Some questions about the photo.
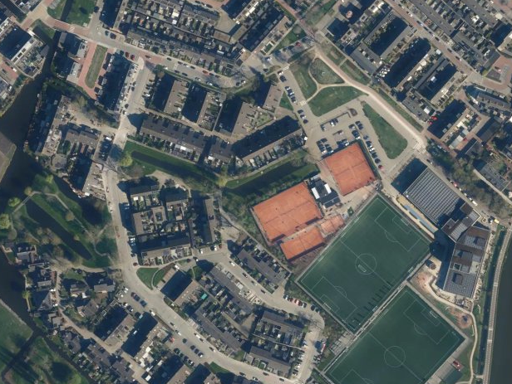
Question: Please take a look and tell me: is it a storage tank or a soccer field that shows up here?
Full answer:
It is a soccer field that can be seen here.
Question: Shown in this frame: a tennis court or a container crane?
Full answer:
There is a tennis court in the scene.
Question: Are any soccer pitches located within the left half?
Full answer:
No, I can find no soccer pitch within the left half.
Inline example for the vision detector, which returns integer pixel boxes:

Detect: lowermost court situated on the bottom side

[281,227,325,259]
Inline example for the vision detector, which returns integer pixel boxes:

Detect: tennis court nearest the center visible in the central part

[252,182,324,241]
